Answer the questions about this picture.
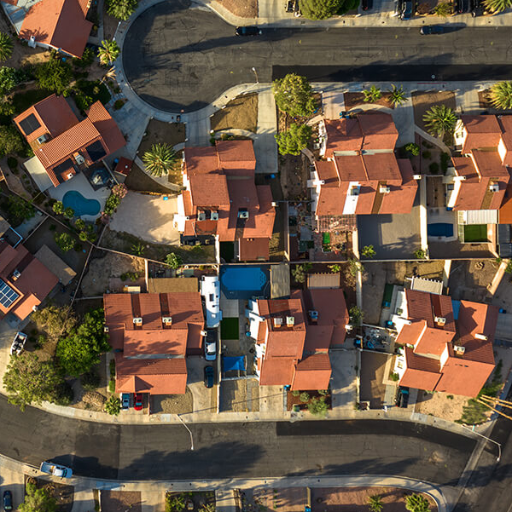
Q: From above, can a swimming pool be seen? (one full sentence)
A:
Yes, the frame does contain a swimming pool.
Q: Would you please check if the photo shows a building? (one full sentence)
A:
Yes, a building is visible in the scene.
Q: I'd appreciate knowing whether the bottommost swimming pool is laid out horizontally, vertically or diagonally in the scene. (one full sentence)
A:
The bottommost swimming pool is oriented horizontally.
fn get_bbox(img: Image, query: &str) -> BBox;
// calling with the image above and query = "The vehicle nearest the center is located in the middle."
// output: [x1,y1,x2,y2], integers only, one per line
[202,271,222,327]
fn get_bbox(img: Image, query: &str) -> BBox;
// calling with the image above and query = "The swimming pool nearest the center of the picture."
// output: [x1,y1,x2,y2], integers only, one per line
[223,268,268,290]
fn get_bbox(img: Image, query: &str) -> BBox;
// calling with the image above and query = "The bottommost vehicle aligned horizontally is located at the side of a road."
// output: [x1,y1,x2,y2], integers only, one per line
[39,460,72,478]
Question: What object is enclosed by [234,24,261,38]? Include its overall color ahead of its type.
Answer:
black vehicle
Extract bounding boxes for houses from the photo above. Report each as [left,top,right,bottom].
[386,276,499,398]
[305,114,422,232]
[103,276,207,400]
[439,115,512,224]
[178,139,277,260]
[248,273,353,391]
[1,0,97,58]
[0,217,76,322]
[14,93,126,191]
